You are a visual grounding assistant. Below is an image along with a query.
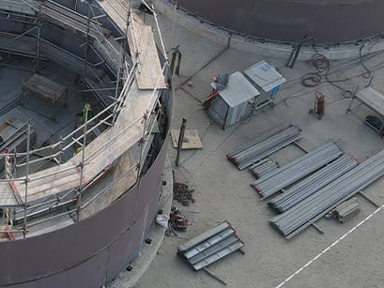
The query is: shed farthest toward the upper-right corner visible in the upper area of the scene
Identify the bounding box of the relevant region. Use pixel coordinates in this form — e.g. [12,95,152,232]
[243,61,287,111]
